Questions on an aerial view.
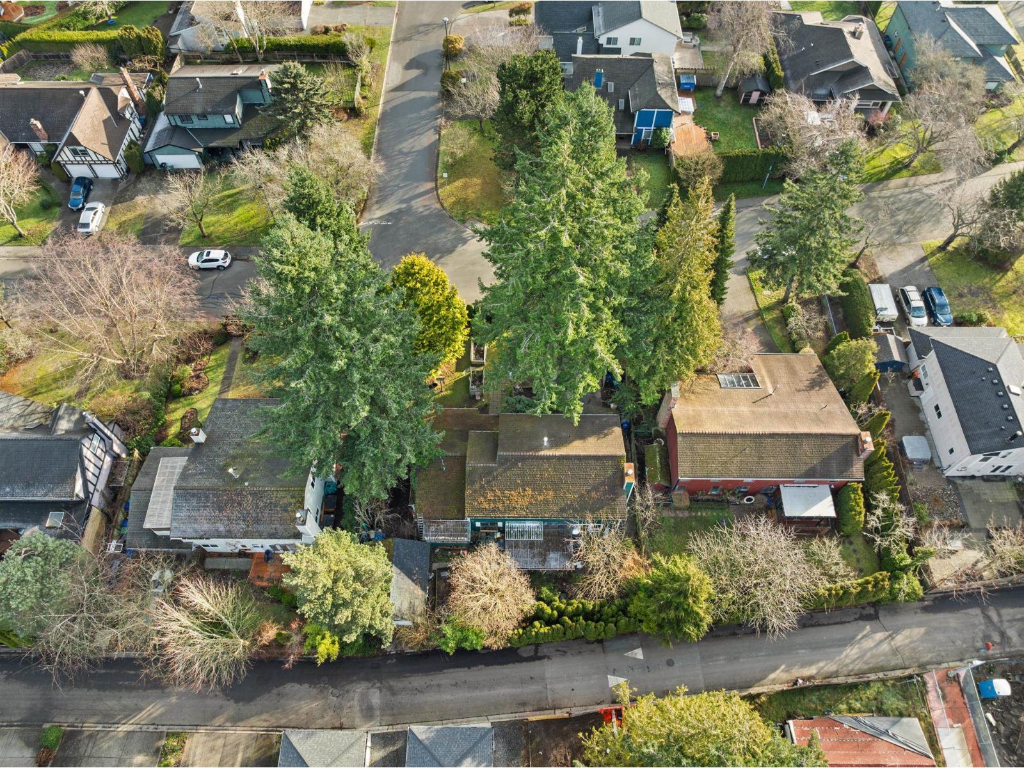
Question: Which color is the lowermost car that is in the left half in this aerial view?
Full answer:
The lowermost car that is in the left half is white.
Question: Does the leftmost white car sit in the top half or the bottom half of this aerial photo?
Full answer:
It is in the top half that the leftmost white car appears.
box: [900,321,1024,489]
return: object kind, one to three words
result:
house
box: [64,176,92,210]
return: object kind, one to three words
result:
car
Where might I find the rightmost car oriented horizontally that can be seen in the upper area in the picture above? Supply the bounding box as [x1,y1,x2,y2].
[186,249,232,272]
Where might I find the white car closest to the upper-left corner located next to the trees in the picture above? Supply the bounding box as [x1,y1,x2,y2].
[73,203,108,235]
